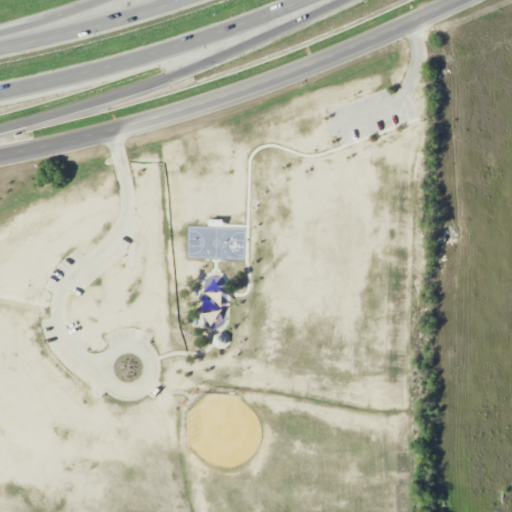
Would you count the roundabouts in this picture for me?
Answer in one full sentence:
I count just 1 roundabout.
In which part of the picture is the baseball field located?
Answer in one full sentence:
You can find the baseball field in the bottom area of the picture.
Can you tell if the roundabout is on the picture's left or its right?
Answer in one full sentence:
The roundabout is on the left side of the image.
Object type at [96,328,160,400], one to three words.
roundabout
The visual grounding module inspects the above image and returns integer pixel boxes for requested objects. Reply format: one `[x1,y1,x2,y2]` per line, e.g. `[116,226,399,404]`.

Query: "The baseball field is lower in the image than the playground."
[183,390,262,468]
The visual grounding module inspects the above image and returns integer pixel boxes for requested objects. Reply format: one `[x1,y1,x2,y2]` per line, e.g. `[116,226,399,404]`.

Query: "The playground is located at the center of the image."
[198,270,230,335]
